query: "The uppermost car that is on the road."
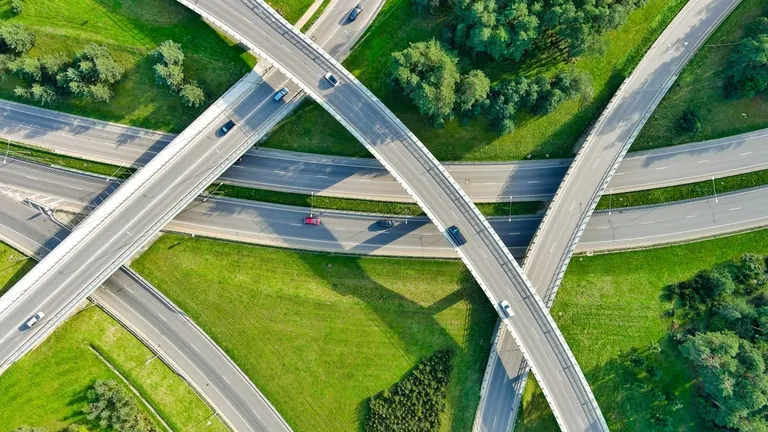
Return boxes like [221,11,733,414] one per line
[348,4,362,20]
